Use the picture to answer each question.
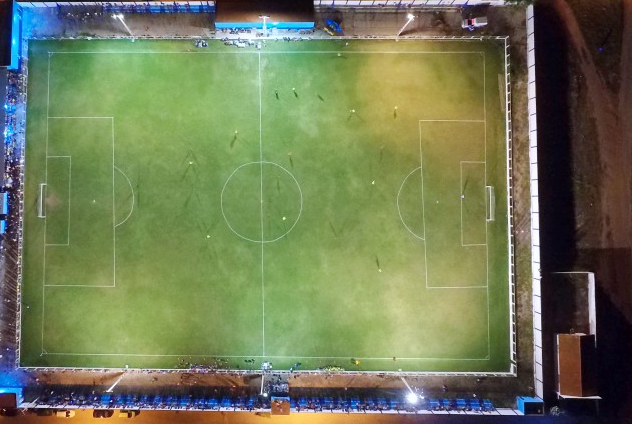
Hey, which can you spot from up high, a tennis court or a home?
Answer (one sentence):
I can see a home in this picture.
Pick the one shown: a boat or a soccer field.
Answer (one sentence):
Of the two, only a soccer field appears.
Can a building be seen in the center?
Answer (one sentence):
No, no building is visible in the center.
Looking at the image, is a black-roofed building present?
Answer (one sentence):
Yes, a black-roofed building appears in the view.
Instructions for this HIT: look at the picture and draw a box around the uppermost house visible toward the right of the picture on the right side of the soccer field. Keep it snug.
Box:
[548,330,602,401]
